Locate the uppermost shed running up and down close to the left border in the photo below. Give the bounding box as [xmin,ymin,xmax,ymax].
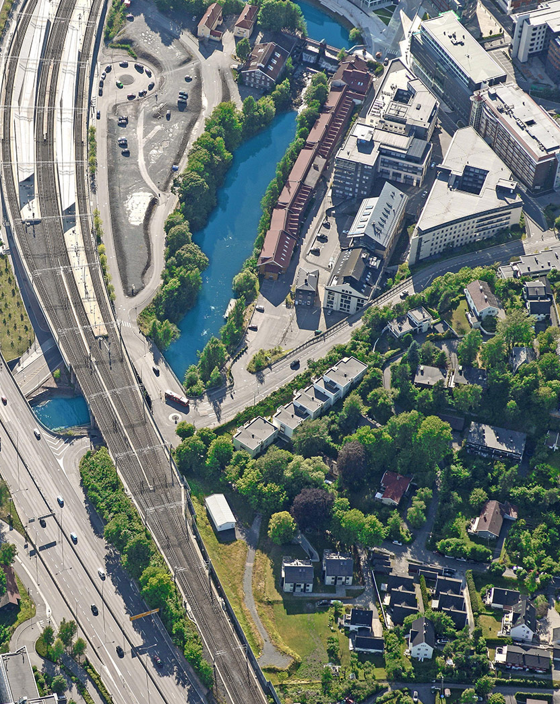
[0,567,19,613]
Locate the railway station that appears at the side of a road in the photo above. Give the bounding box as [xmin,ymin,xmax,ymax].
[14,0,108,339]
